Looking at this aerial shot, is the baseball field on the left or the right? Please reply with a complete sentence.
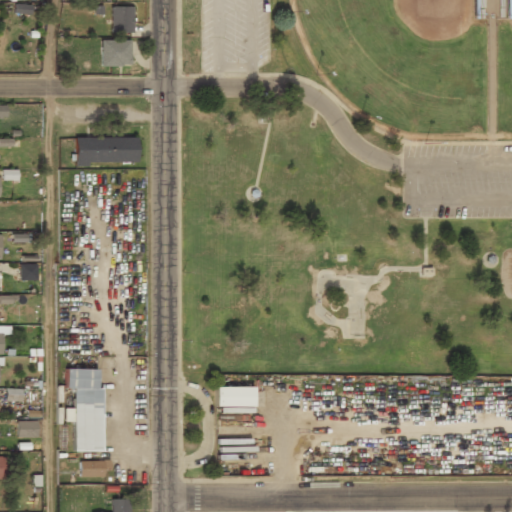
The baseball field is on the right side of the image.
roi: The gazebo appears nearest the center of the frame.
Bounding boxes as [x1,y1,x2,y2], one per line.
[246,186,262,202]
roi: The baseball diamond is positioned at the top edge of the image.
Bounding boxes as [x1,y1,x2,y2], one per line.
[394,0,478,41]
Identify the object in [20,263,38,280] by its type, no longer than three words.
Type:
house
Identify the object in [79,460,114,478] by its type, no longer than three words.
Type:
building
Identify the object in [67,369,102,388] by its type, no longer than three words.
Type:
building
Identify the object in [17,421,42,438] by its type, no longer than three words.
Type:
house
